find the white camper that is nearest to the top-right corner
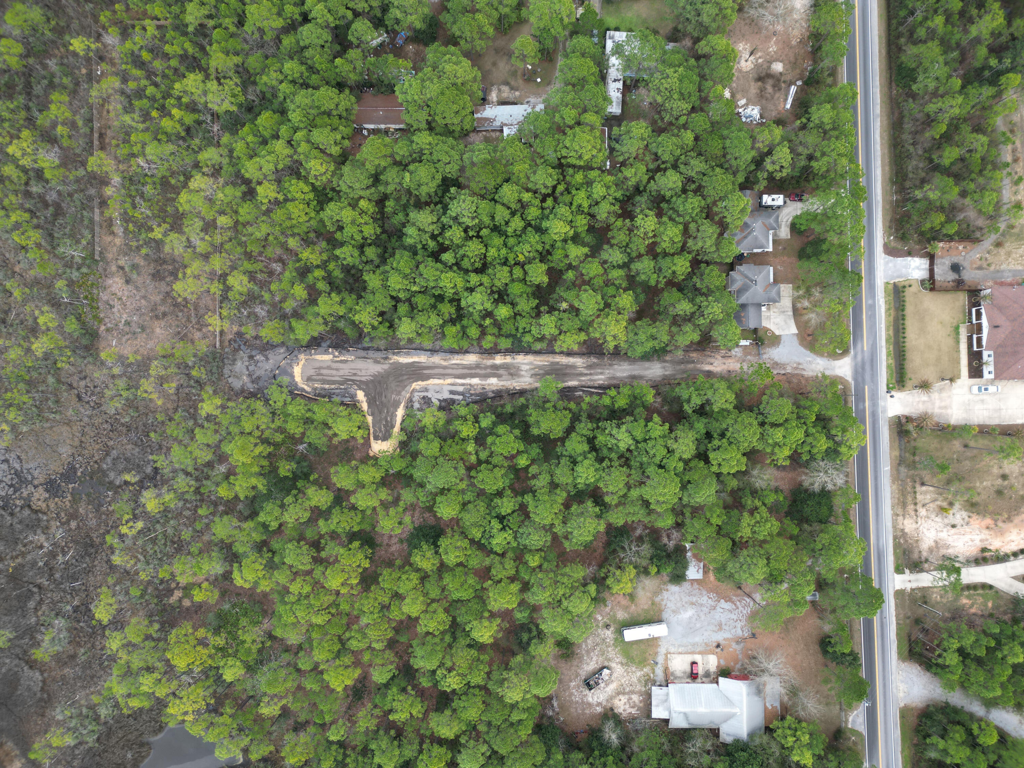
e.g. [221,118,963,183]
[759,195,784,210]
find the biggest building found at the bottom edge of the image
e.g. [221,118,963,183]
[667,670,765,743]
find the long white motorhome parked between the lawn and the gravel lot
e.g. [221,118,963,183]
[622,622,667,641]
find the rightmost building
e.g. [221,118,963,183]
[967,284,1024,379]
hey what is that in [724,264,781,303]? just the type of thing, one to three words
house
